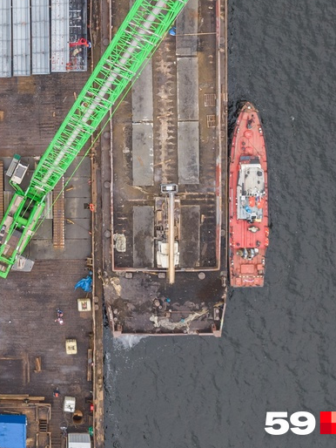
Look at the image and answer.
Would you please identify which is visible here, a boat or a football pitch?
boat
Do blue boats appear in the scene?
No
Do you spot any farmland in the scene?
No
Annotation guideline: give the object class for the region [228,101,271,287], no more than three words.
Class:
boat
